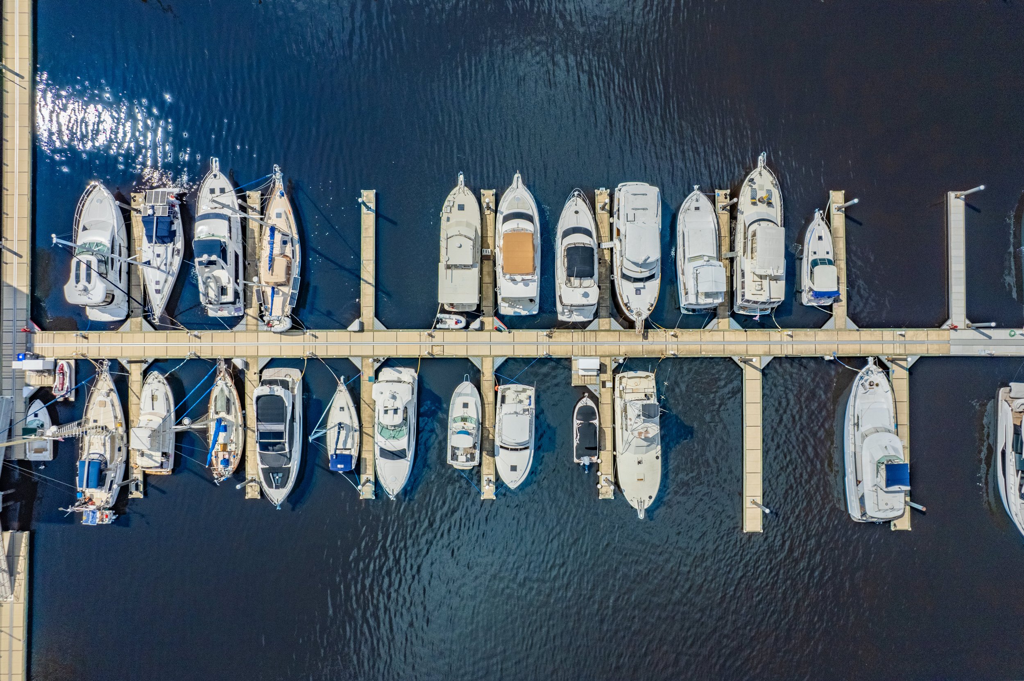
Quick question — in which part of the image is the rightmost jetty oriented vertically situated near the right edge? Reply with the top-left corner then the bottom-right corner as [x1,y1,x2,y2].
[937,191,975,328]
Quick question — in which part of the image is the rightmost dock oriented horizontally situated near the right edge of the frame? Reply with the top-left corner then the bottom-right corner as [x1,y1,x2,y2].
[950,328,1024,356]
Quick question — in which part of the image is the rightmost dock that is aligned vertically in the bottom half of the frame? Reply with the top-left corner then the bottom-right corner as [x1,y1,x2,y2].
[877,356,922,531]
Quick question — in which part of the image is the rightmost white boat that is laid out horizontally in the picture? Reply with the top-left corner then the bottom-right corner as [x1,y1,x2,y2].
[433,314,466,329]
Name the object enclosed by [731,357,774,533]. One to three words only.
pier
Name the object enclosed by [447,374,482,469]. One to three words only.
boat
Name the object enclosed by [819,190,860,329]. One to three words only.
pier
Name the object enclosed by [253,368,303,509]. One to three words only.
boat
